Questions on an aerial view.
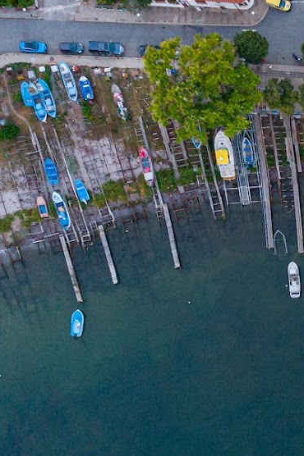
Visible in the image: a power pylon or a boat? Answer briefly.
boat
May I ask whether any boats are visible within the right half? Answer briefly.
Yes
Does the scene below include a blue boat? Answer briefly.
Yes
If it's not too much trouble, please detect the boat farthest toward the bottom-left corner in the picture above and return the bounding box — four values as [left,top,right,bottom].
[70,309,84,341]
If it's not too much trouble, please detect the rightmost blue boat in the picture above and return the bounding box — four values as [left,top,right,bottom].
[242,137,255,169]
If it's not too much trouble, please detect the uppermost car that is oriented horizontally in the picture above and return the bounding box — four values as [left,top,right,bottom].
[264,0,293,14]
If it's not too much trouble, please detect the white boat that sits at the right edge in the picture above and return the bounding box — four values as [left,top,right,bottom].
[286,261,299,299]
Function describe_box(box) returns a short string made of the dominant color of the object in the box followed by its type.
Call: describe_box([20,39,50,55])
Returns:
blue car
